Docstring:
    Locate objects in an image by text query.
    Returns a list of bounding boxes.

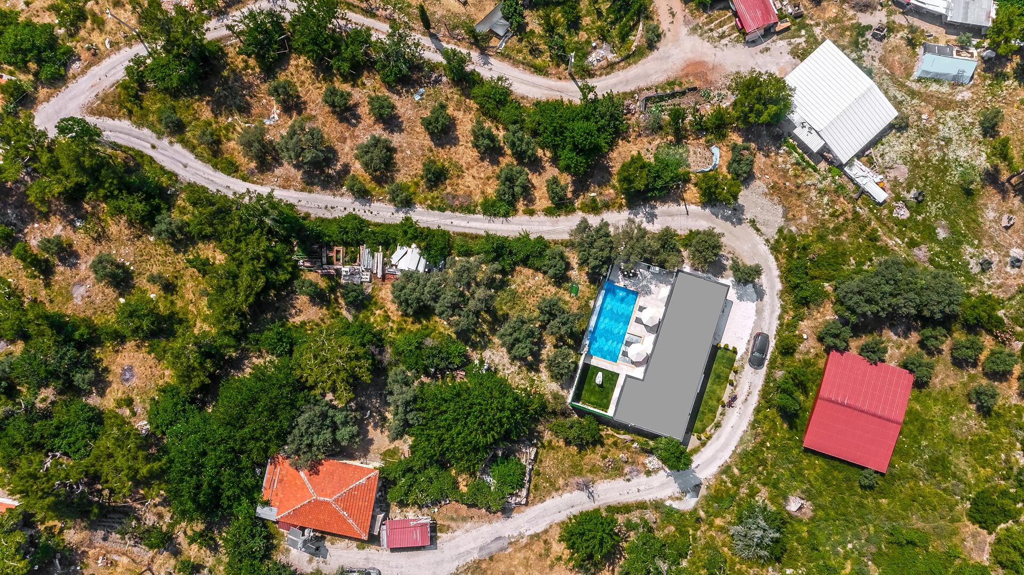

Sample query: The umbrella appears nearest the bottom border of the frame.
[628,343,647,362]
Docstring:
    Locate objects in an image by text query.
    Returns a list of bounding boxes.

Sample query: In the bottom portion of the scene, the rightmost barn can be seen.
[802,351,912,473]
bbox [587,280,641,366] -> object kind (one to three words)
swimming pool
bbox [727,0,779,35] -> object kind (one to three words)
shed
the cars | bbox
[747,332,769,369]
[345,566,382,575]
